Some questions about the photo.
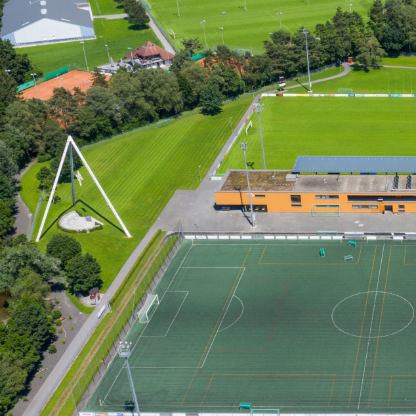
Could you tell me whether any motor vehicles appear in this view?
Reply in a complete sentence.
No, there isn't any motor vehicle down there.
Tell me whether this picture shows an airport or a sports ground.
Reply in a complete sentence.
What you see here is a sports ground.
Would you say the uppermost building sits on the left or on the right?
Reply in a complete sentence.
It is on the left.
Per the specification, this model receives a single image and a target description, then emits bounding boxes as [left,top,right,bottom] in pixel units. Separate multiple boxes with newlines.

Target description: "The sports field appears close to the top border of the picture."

[141,0,416,55]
